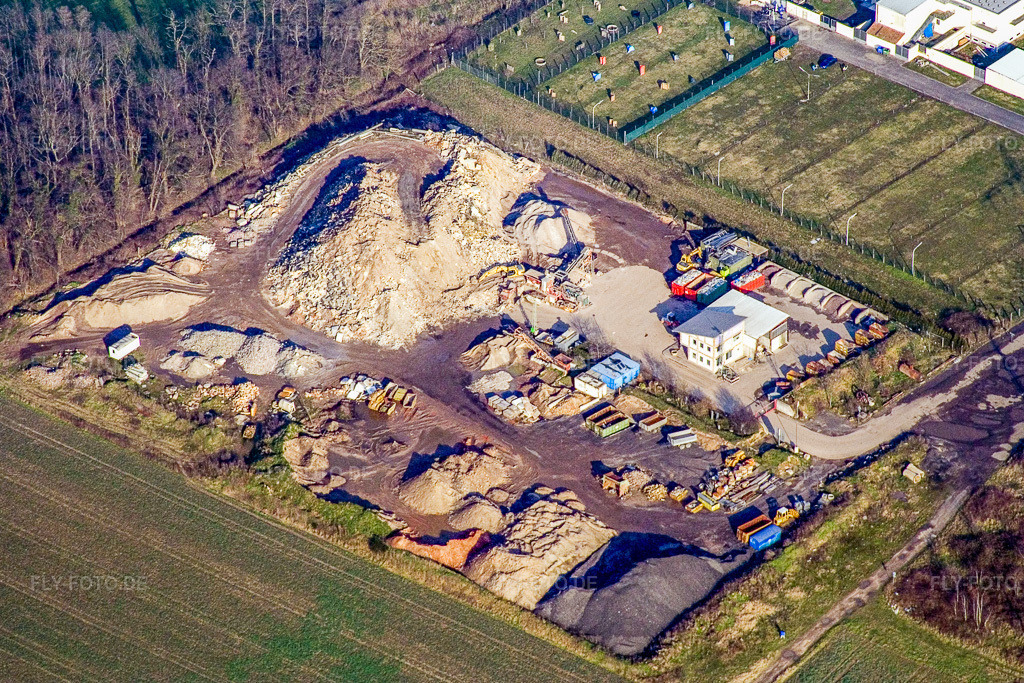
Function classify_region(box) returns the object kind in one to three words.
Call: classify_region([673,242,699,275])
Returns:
work vehicle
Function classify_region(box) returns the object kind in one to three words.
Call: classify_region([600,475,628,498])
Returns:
truck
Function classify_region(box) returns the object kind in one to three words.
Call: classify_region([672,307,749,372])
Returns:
building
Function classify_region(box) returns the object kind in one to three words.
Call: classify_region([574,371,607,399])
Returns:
building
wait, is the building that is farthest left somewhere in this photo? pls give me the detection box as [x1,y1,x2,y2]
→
[108,334,139,360]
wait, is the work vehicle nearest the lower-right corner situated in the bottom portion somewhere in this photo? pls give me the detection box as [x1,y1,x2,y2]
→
[773,505,805,528]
